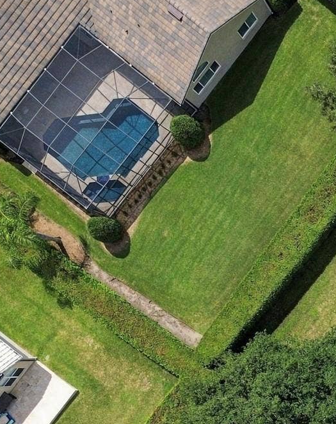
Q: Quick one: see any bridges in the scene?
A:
No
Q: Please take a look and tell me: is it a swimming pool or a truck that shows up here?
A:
swimming pool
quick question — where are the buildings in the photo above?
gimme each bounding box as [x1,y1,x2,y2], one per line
[0,333,35,397]
[0,0,274,127]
